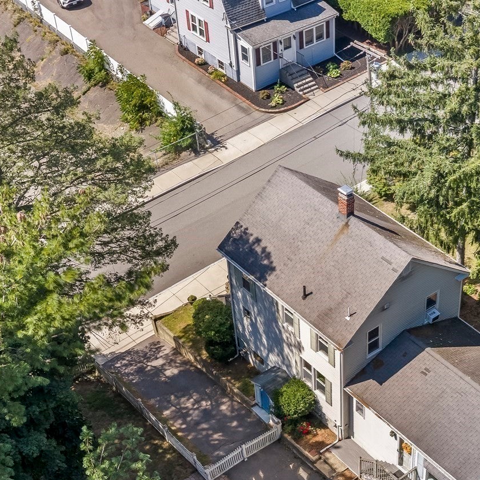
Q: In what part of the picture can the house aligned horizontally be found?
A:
top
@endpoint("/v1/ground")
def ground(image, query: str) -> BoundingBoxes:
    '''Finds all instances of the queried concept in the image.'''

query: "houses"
[216,167,480,480]
[141,0,344,89]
